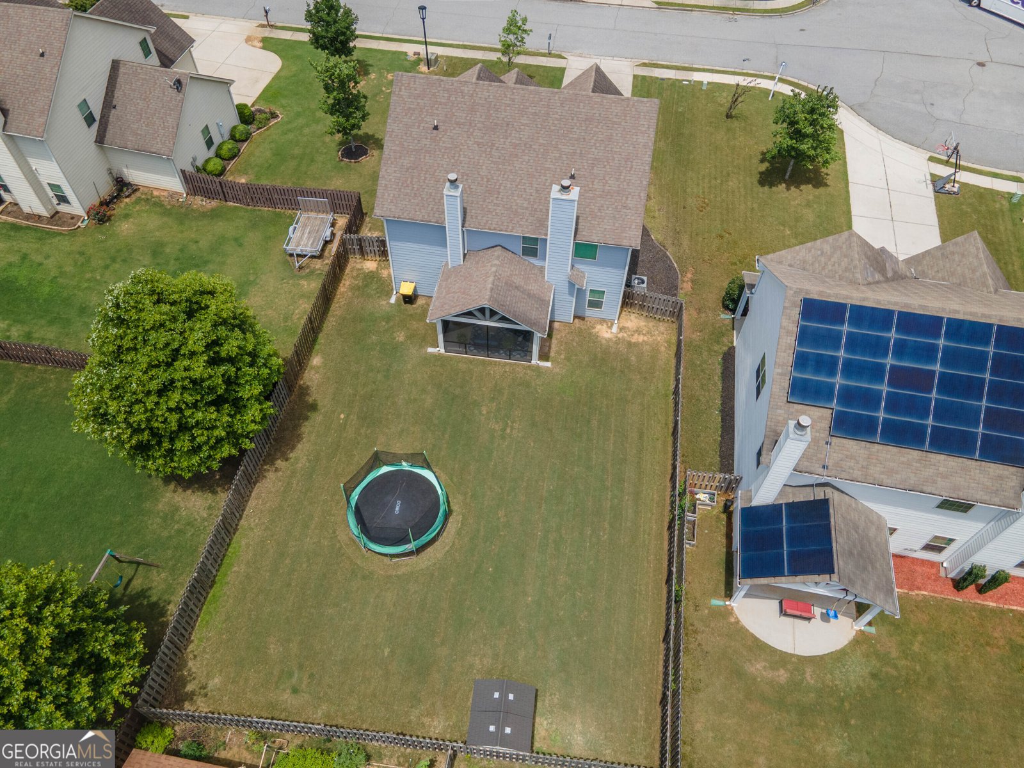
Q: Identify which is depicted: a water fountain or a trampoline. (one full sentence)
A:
Of the two, only a trampoline appears.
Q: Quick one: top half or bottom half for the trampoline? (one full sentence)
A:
You can find the trampoline in the bottom half.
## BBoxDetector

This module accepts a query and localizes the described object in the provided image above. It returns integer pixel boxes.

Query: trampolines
[340,448,448,560]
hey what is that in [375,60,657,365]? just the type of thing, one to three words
house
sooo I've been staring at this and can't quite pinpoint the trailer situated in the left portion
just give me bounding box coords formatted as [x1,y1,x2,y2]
[287,199,331,269]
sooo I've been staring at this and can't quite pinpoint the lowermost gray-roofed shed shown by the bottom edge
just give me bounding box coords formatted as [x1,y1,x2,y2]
[466,676,536,754]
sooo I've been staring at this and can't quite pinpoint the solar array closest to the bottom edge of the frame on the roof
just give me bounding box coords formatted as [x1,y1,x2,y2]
[739,493,825,579]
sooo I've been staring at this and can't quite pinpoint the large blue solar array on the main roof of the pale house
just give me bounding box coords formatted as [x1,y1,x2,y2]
[791,296,1024,465]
